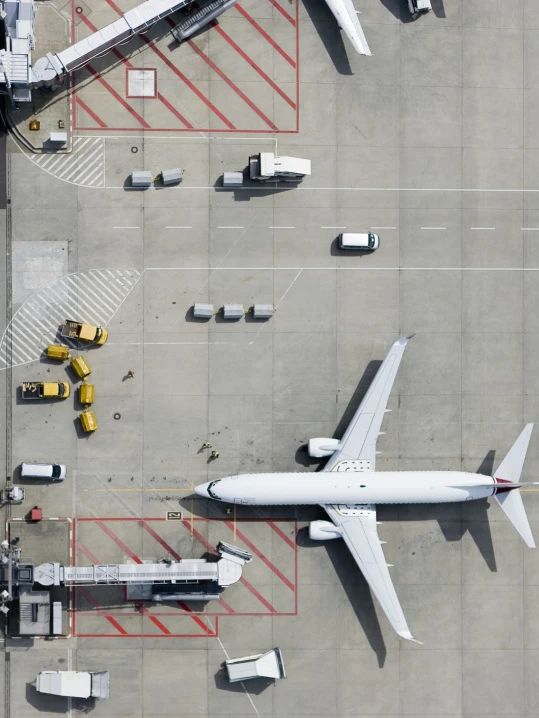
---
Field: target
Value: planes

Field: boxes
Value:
[194,333,539,641]
[328,0,370,55]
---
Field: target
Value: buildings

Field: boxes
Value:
[20,583,53,634]
[0,0,39,106]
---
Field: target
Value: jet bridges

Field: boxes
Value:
[32,543,255,600]
[32,0,243,86]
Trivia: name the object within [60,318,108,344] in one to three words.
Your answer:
truck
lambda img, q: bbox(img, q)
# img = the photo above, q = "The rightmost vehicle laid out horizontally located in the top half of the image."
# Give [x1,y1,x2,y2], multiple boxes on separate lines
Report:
[336,231,380,251]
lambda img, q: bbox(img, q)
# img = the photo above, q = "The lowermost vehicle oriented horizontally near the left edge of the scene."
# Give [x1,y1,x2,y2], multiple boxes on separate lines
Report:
[20,461,67,481]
